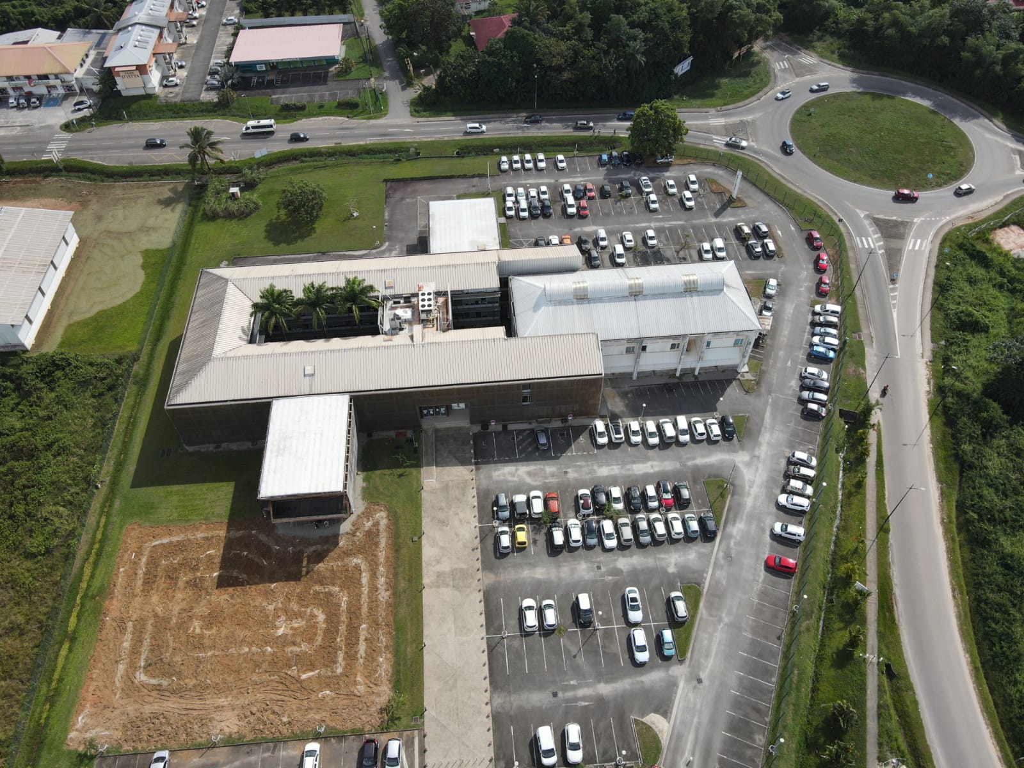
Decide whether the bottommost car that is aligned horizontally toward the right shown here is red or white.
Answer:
red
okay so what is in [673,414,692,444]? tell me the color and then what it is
white vehicle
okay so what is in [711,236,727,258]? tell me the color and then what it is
white vehicle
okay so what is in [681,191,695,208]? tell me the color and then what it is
white car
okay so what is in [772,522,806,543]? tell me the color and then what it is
white car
